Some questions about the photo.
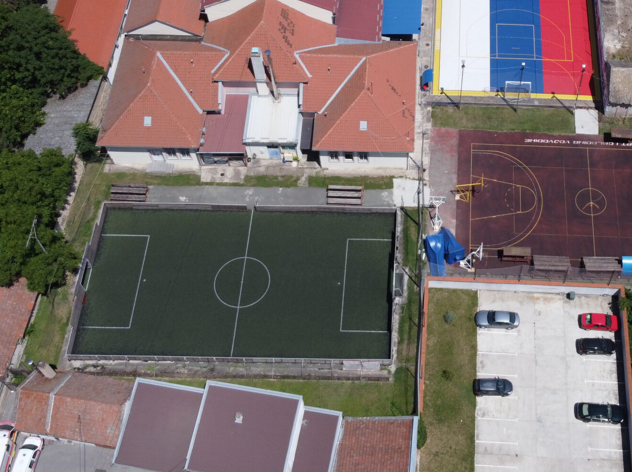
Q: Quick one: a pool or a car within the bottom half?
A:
car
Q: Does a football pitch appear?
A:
Yes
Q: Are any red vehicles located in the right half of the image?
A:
Yes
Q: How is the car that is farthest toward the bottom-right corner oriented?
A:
horizontally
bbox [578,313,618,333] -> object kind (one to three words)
car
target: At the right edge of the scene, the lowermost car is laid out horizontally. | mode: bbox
[574,402,624,424]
